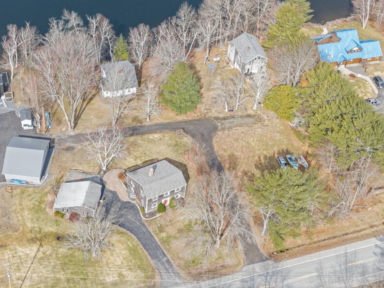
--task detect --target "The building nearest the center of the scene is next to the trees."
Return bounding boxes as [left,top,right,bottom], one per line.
[125,159,187,212]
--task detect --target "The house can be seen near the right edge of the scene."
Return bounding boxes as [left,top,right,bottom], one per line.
[306,26,384,67]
